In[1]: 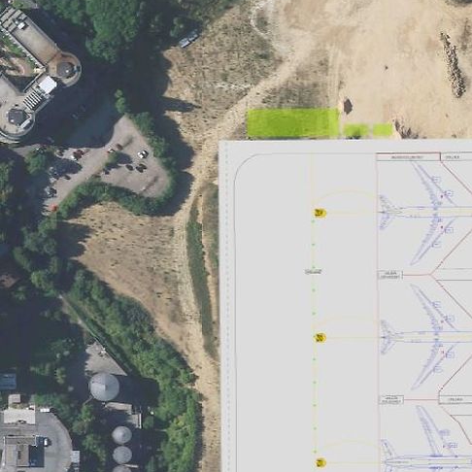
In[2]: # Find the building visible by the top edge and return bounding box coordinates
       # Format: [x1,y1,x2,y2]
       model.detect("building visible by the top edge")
[0,5,85,142]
